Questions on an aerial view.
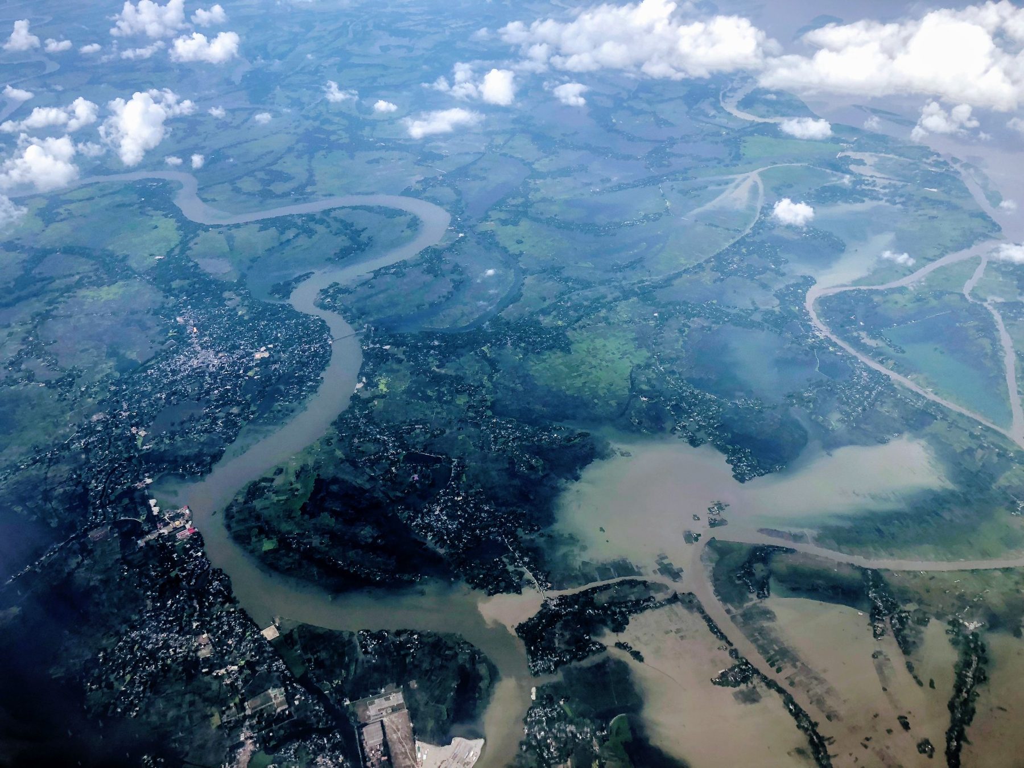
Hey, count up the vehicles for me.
zero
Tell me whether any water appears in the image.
Yes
